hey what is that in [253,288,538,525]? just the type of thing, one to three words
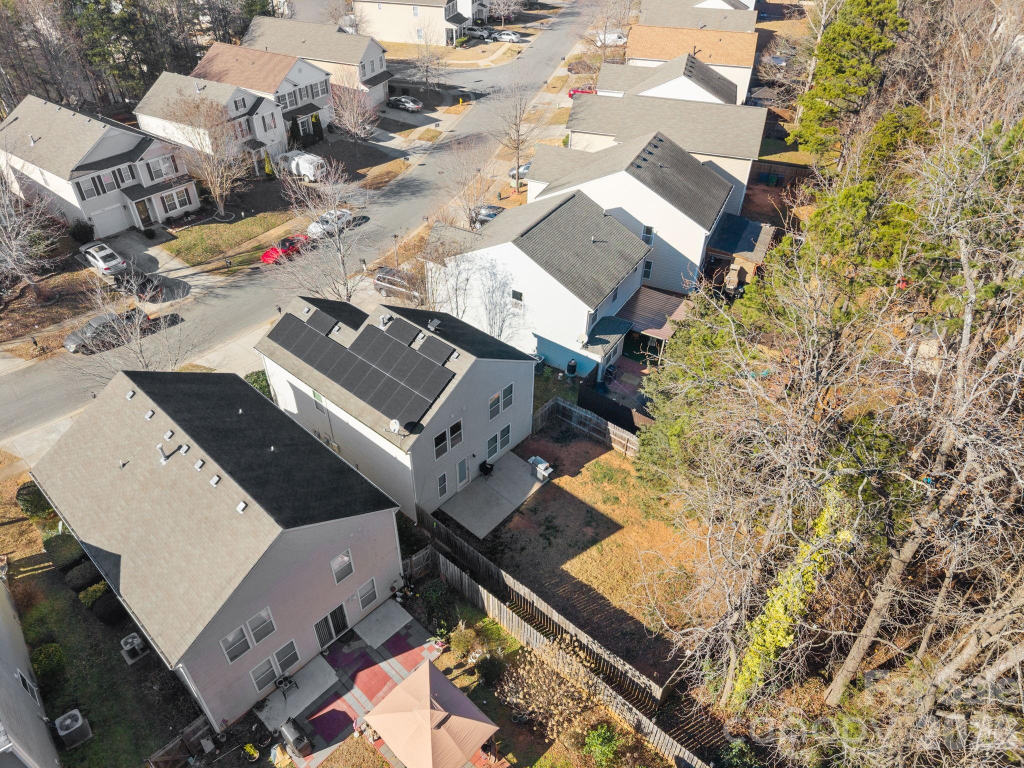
house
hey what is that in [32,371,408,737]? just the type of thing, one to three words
house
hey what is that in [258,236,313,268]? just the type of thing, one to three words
car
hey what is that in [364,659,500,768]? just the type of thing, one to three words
gazebo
